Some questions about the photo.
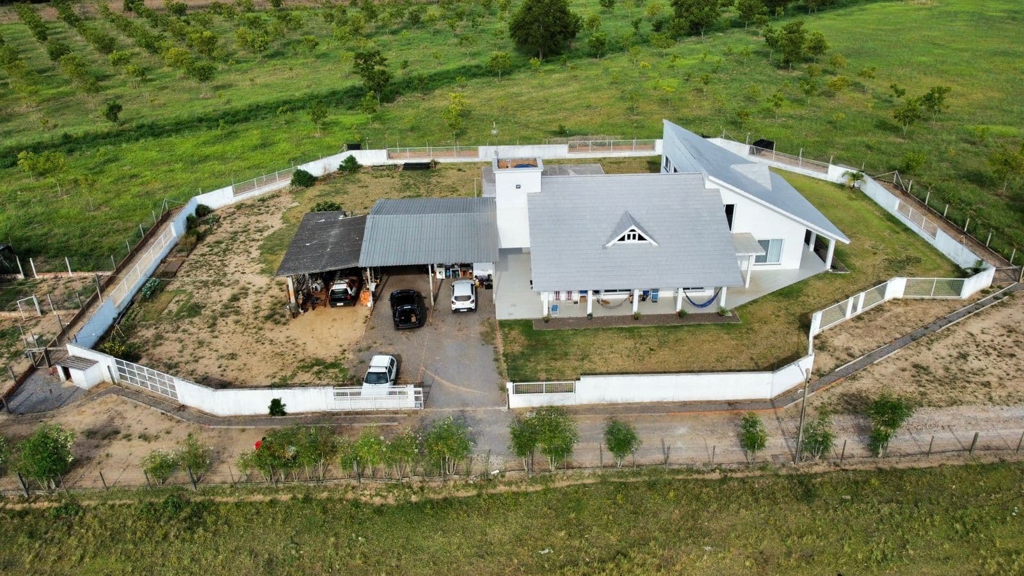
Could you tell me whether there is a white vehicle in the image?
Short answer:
Yes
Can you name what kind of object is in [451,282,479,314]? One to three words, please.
car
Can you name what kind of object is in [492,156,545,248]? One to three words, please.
water tower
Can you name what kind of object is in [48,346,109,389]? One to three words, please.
shed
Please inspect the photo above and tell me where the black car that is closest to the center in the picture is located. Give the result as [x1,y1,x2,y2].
[391,292,424,330]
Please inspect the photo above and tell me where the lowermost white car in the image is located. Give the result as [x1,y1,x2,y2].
[361,355,397,394]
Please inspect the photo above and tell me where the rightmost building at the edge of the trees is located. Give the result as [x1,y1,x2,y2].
[500,117,854,313]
